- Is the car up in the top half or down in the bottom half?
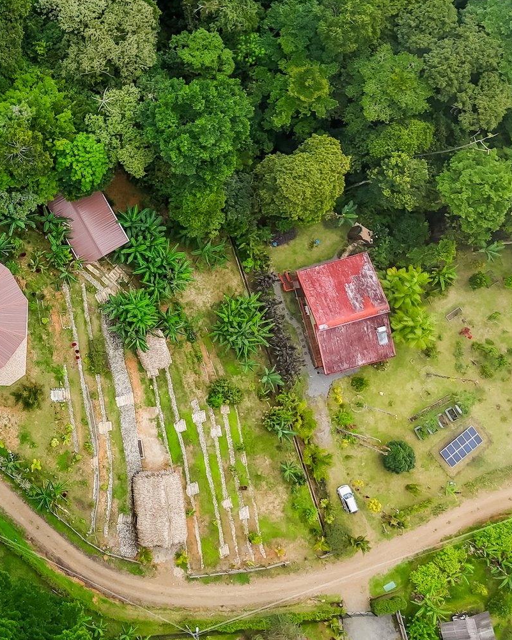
bottom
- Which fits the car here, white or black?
white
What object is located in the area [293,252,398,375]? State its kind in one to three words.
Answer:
house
